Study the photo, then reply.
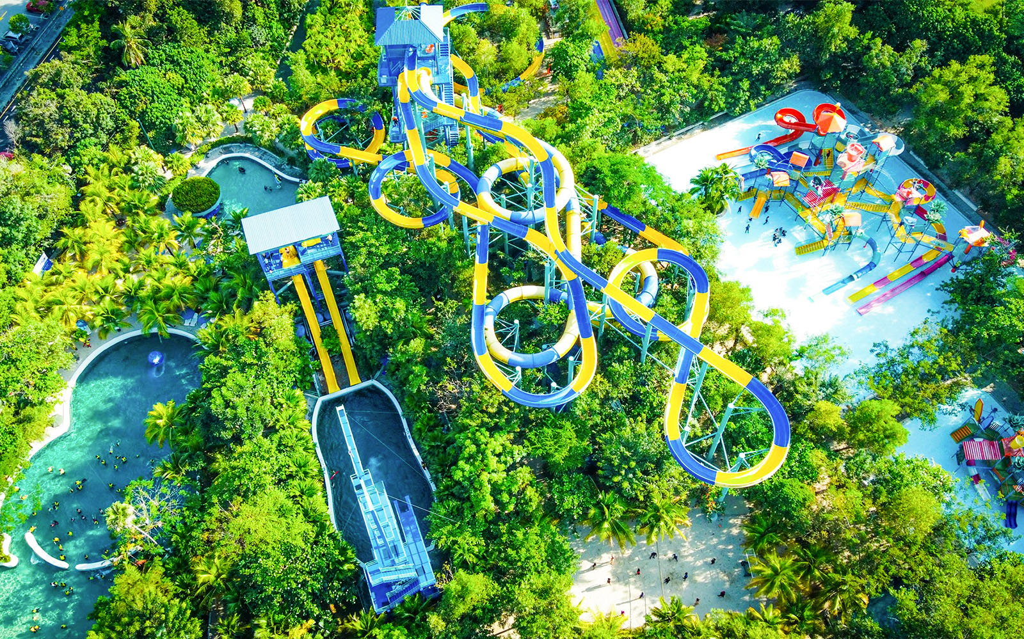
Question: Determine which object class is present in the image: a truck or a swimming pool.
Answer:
swimming pool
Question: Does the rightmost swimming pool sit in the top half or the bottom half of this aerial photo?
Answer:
bottom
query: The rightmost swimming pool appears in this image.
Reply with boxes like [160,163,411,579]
[315,384,455,624]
